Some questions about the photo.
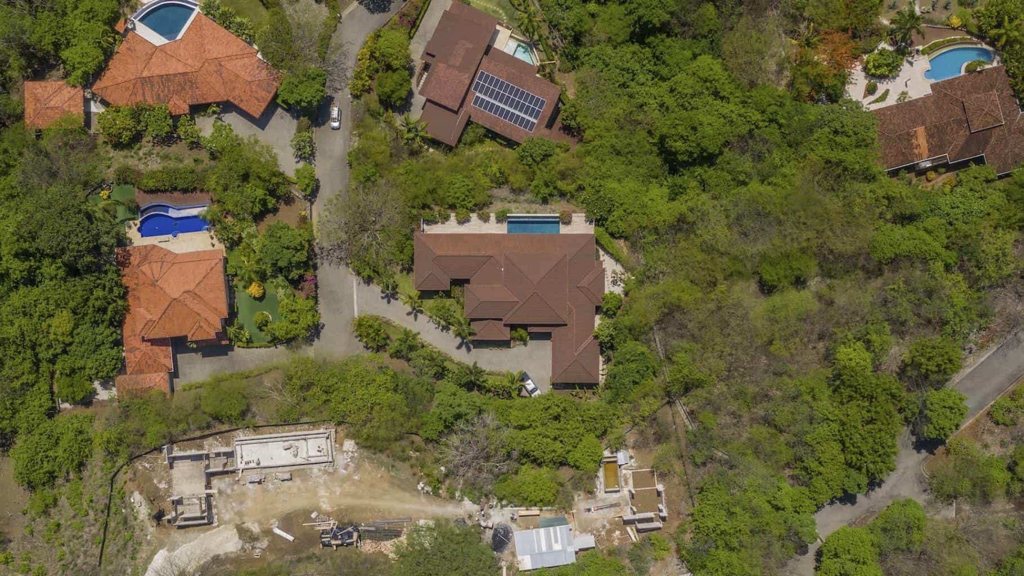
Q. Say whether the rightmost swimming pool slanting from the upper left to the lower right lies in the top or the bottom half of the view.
top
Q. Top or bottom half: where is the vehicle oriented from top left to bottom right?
bottom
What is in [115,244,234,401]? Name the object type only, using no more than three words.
house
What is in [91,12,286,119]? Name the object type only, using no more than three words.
house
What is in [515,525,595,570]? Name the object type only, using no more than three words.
shed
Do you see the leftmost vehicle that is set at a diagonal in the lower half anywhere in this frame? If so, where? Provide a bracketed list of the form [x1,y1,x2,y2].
[521,371,541,396]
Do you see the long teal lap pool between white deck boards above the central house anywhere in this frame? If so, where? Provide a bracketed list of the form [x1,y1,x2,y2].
[420,211,595,234]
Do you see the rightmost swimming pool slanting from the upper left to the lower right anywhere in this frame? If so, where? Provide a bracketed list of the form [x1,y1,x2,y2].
[493,24,556,68]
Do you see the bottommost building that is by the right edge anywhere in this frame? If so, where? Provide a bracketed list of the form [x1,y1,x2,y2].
[868,65,1024,176]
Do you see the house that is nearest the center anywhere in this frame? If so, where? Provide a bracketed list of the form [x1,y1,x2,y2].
[414,234,605,383]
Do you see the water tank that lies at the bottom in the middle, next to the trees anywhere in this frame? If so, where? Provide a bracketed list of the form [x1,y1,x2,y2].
[601,454,622,493]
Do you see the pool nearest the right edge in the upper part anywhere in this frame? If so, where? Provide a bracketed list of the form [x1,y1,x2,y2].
[847,34,1002,108]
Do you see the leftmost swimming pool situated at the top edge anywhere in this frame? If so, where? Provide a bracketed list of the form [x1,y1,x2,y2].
[129,0,201,46]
